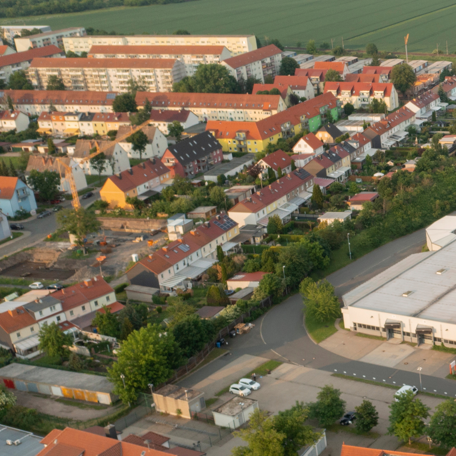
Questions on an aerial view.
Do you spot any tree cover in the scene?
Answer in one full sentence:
Yes, the picture does contain tree cover.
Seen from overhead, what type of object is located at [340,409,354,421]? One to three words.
vehicle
